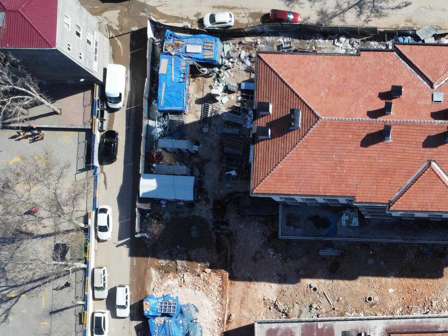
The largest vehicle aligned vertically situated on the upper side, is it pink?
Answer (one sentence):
No, from above the largest vehicle aligned vertically situated on the upper side looks white.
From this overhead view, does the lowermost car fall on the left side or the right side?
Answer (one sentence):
You can find the lowermost car on the left side of the picture.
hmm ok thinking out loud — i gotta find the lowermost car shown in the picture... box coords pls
[89,310,109,336]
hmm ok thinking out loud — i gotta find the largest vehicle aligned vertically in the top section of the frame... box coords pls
[102,60,125,108]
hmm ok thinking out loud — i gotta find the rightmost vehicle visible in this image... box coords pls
[267,4,301,20]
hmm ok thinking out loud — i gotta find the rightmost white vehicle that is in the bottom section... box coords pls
[112,284,130,318]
